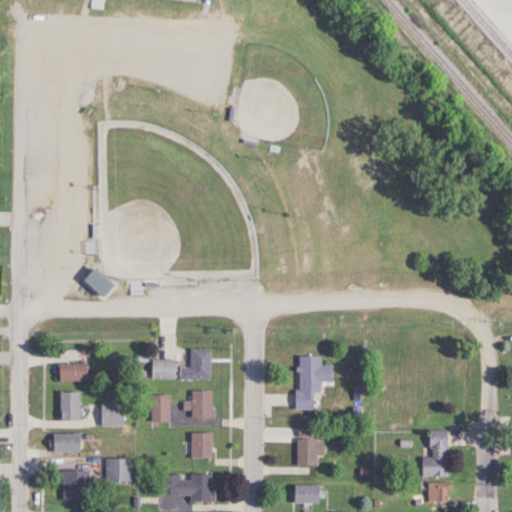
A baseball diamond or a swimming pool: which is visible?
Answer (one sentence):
I can see a baseball diamond in this picture.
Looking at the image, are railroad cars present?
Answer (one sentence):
No, no railroad car is visible in the scene.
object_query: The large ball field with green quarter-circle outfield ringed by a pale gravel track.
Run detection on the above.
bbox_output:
[97,120,256,279]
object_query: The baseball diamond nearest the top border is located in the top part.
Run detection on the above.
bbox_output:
[230,44,330,152]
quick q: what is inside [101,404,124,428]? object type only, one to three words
building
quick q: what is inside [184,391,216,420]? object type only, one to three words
house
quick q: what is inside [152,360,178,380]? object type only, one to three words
building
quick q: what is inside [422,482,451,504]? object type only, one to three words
house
